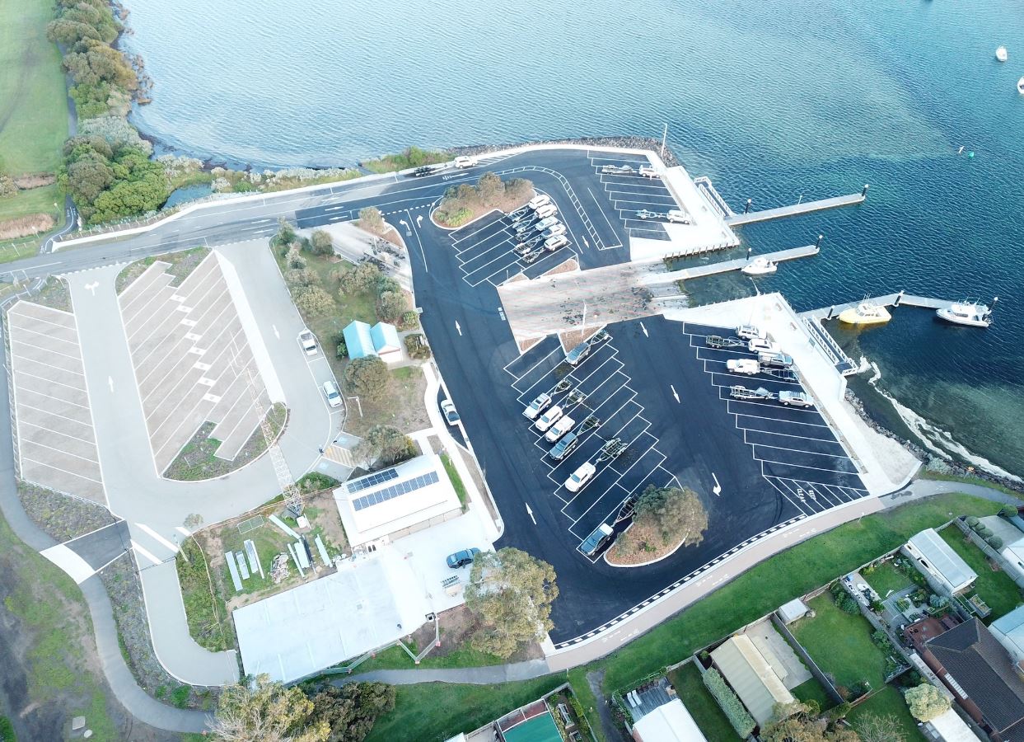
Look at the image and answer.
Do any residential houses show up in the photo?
Yes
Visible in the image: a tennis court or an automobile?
automobile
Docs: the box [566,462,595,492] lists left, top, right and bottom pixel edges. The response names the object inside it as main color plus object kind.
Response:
white car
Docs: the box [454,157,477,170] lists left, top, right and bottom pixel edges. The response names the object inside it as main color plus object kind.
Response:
white vehicle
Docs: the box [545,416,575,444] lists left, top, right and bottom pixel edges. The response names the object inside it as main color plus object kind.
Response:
white car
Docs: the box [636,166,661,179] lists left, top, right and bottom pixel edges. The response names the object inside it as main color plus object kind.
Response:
white vehicle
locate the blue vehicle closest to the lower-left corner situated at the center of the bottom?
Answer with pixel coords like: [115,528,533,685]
[446,549,483,570]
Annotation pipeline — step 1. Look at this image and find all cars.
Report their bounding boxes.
[541,225,566,241]
[446,549,483,570]
[535,405,563,432]
[566,462,595,492]
[528,196,551,211]
[733,324,764,339]
[441,401,460,427]
[545,416,575,444]
[566,342,592,366]
[665,211,690,225]
[581,523,613,557]
[543,236,567,252]
[534,206,557,220]
[524,394,551,420]
[454,157,477,170]
[324,385,342,406]
[726,360,759,377]
[300,331,318,356]
[756,351,789,368]
[778,392,813,409]
[534,217,559,232]
[636,166,661,179]
[749,338,779,353]
[549,434,578,462]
